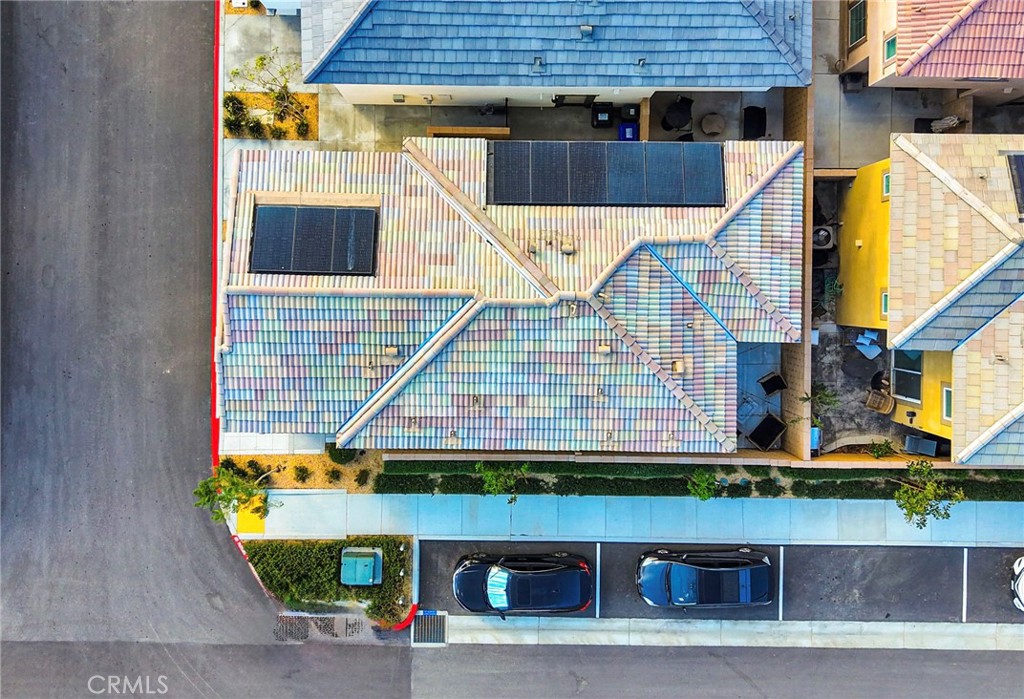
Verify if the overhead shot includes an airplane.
No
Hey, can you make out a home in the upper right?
Yes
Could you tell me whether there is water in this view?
No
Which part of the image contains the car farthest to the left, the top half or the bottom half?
bottom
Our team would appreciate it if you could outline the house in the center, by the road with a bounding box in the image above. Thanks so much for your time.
[216,134,806,454]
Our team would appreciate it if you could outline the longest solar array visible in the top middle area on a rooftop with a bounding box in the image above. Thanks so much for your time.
[483,138,728,209]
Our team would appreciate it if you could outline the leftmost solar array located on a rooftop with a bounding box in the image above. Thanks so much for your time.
[248,189,384,275]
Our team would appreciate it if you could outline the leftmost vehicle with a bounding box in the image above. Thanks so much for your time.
[454,549,593,620]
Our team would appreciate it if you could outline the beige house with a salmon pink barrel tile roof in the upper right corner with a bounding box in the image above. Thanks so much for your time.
[844,0,1024,104]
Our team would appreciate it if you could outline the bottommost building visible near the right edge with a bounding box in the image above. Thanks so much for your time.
[831,132,1024,465]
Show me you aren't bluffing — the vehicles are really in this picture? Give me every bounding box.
[454,549,593,620]
[635,548,774,618]
[1006,552,1024,610]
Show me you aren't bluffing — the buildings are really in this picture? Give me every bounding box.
[831,132,1024,465]
[216,134,806,454]
[303,0,813,106]
[844,0,1024,104]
